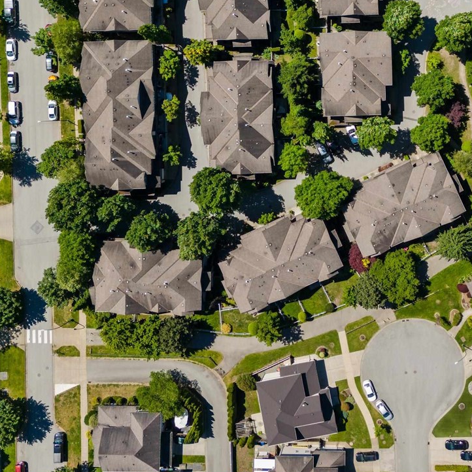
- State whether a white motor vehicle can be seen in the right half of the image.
Yes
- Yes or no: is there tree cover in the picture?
Yes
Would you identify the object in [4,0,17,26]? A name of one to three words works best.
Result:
vehicle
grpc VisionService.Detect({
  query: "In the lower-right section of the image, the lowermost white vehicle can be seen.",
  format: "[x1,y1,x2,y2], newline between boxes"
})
[376,397,392,420]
